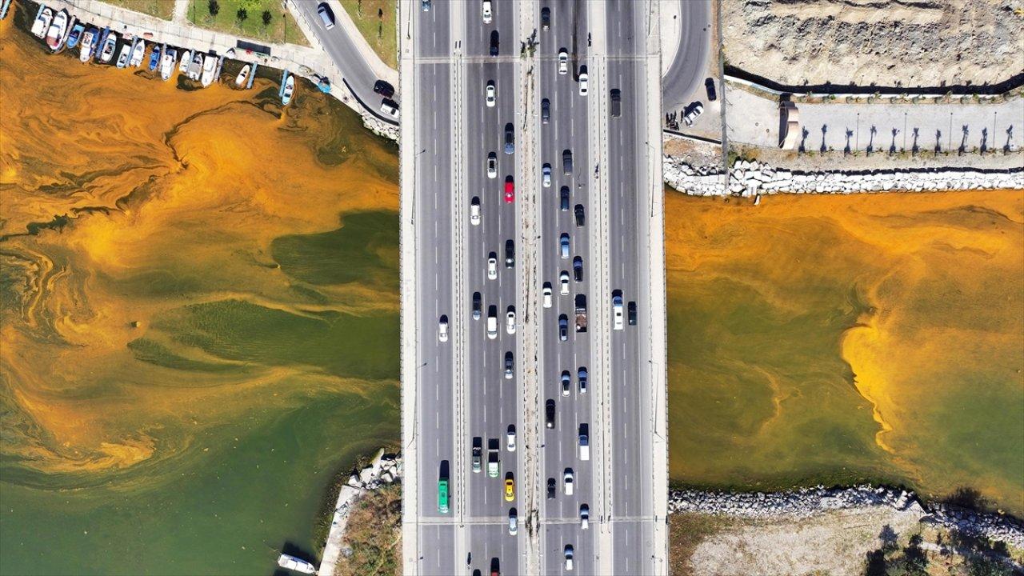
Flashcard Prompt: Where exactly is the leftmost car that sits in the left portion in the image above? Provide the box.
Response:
[318,5,333,26]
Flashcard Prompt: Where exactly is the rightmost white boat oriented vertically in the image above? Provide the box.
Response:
[283,75,296,105]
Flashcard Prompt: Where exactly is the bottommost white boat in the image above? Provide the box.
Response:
[278,554,317,574]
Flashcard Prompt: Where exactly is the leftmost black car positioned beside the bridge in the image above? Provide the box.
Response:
[374,81,395,97]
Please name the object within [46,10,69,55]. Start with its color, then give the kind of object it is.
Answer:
white boat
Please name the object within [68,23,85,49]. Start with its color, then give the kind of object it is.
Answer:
blue boat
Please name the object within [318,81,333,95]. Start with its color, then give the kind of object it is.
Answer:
blue boat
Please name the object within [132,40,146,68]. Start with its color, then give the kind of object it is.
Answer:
white boat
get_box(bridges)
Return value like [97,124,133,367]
[398,0,669,576]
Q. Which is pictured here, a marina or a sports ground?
marina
